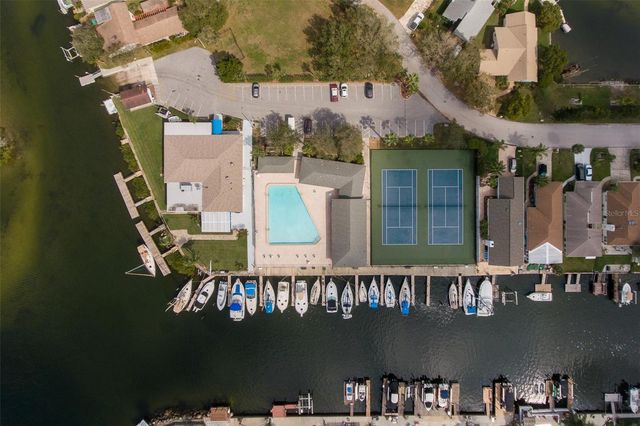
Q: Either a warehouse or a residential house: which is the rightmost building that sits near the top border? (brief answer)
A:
residential house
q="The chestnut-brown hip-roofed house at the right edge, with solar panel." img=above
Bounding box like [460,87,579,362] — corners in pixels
[603,182,640,245]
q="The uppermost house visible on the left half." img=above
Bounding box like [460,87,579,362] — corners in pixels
[94,0,188,56]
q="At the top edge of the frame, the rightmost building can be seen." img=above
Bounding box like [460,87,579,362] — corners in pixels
[478,11,537,84]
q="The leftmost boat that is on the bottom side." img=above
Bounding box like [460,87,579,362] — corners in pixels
[130,244,156,279]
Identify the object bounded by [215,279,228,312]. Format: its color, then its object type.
white boat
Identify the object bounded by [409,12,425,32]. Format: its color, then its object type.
white vehicle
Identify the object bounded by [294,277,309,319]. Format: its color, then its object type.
white boat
